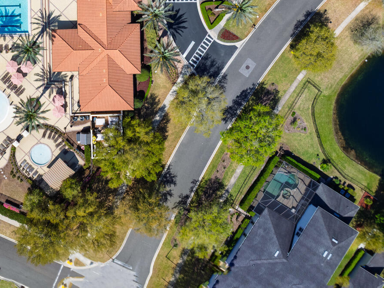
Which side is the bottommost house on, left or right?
right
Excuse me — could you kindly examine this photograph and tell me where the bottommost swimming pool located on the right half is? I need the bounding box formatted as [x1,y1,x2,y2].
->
[264,172,301,201]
